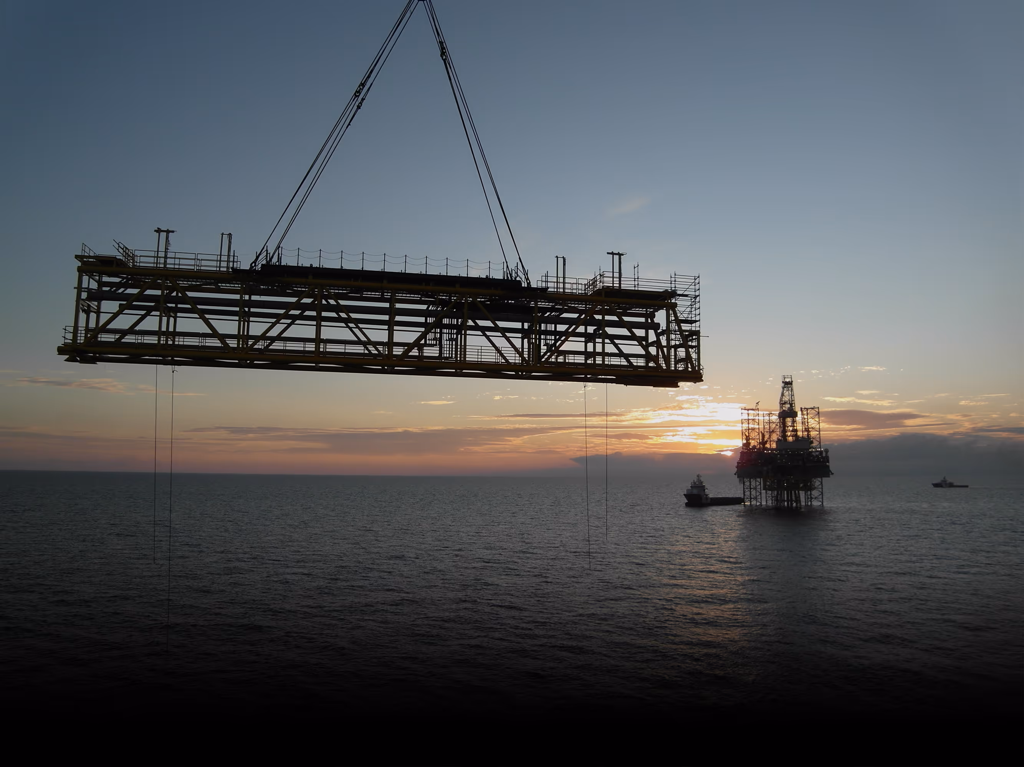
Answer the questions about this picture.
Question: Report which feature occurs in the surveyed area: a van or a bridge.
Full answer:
Visible in the photo is a bridge.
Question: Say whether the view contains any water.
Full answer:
Yes, water can be seen from above here.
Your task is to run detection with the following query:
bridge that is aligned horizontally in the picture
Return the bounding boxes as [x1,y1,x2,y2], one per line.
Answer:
[56,227,706,388]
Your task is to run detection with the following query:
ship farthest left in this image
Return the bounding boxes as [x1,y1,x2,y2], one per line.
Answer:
[684,470,747,507]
